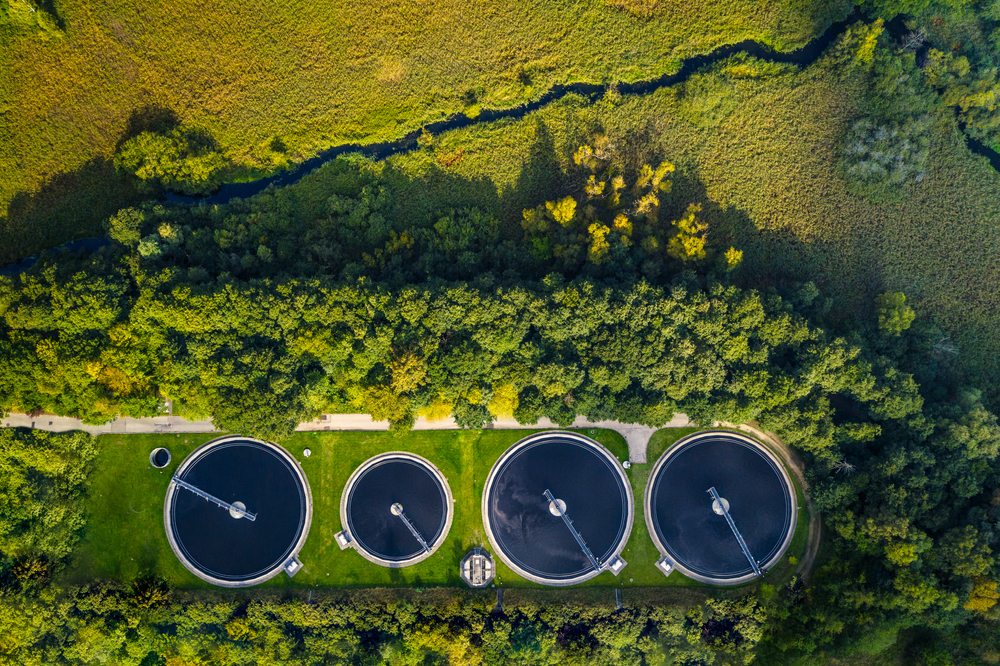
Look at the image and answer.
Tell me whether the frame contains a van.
No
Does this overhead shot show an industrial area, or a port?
industrial area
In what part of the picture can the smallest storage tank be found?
bottom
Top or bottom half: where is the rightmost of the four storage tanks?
bottom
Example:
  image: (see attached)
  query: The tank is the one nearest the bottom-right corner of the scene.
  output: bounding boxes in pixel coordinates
[645,431,798,586]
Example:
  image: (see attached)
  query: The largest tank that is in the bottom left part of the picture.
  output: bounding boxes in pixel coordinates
[162,436,313,588]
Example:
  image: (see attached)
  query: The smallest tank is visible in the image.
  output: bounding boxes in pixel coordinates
[332,451,455,568]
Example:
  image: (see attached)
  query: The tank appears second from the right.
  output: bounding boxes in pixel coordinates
[481,432,635,586]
